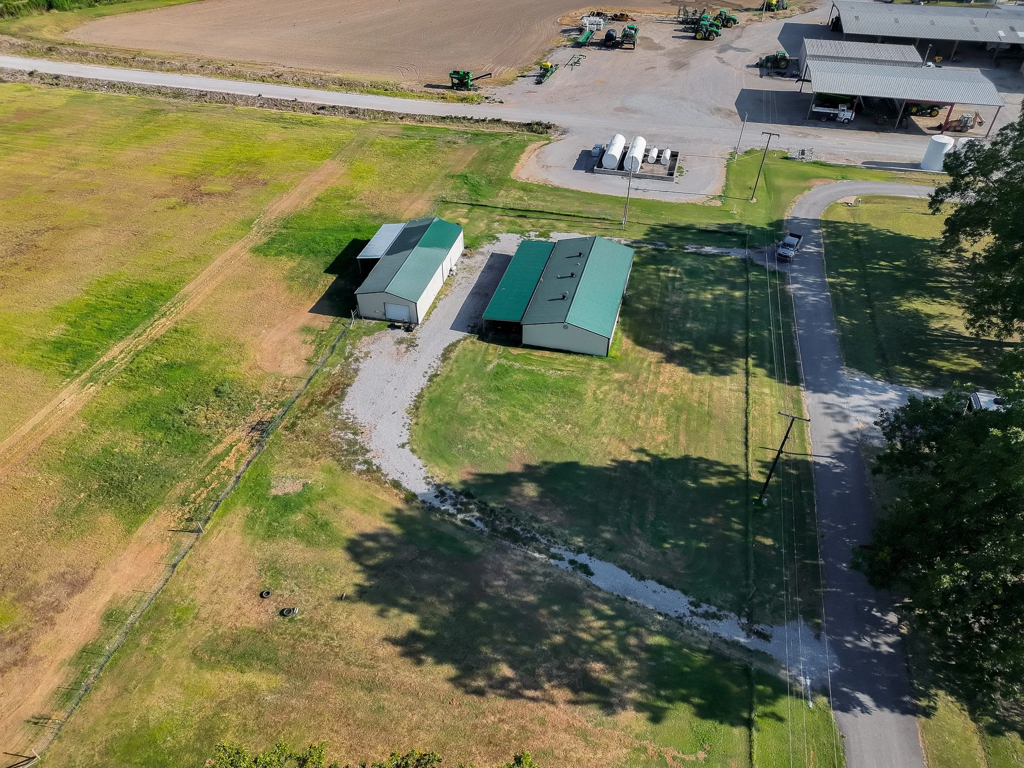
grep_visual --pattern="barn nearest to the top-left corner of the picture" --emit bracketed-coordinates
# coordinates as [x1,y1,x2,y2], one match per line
[352,215,464,329]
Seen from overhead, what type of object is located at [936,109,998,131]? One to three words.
work vehicle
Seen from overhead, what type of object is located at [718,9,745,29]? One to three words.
work vehicle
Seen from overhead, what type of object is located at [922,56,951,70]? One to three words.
vehicle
